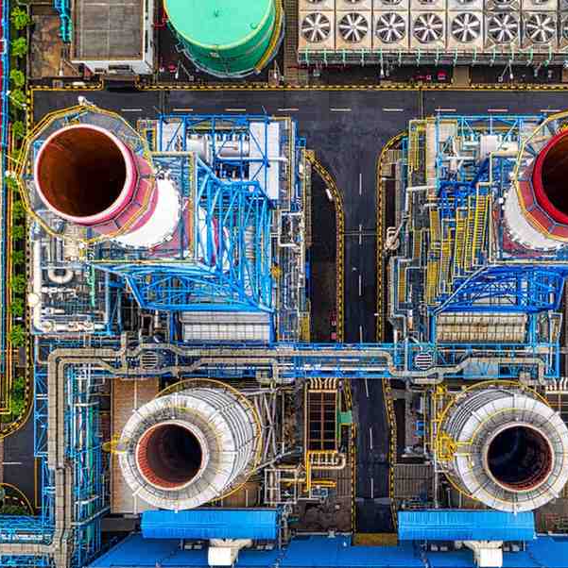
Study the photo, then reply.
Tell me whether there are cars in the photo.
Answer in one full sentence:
No, there isn't any car down there.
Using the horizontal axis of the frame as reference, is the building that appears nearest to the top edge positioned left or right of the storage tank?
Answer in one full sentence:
It is on the left side of the storage tank that the building that appears nearest to the top edge is positioned.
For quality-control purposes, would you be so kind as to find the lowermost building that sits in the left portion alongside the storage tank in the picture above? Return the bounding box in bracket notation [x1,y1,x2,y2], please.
[88,111,314,343]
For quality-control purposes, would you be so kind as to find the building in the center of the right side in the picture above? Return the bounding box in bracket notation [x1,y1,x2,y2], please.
[385,115,568,344]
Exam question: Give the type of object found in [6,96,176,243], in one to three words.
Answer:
chimney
